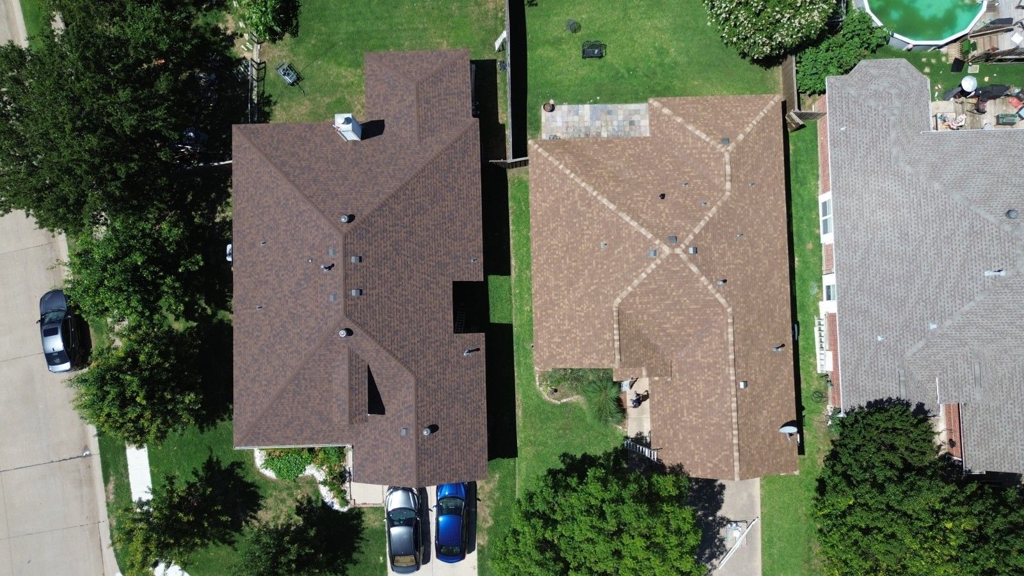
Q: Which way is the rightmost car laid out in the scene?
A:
vertically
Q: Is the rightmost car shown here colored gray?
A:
No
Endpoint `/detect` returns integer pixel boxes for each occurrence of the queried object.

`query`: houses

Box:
[231,47,487,487]
[819,59,1024,478]
[527,93,798,480]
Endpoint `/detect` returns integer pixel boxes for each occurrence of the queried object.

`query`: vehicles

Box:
[34,289,85,375]
[381,488,422,576]
[433,483,471,567]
